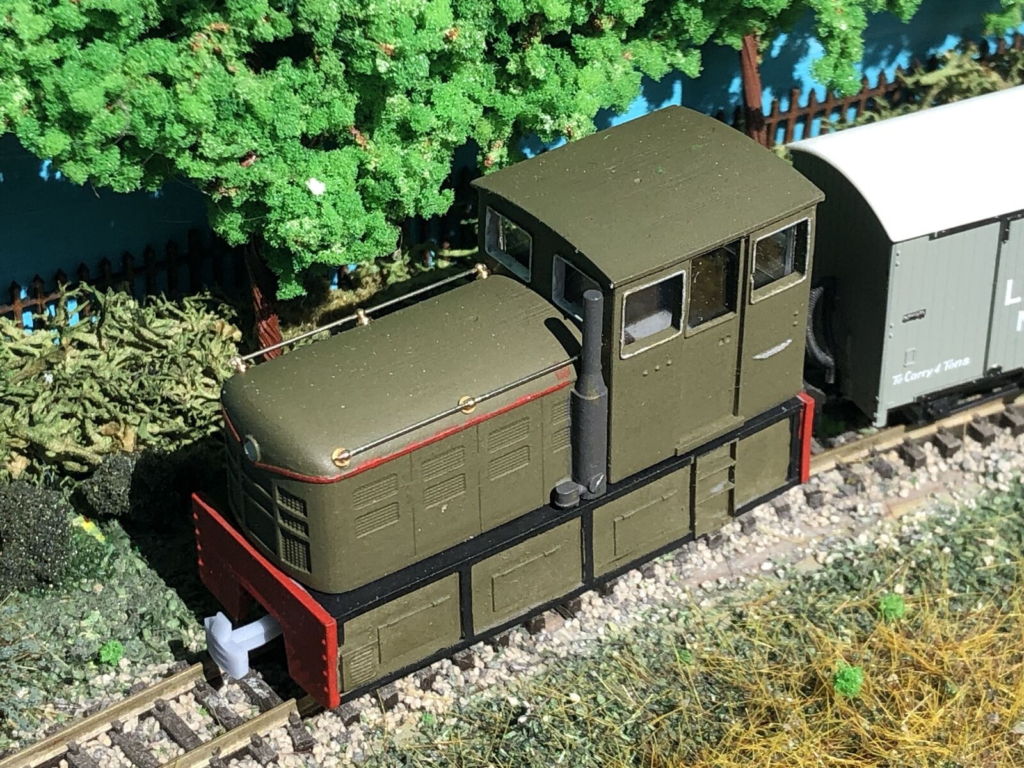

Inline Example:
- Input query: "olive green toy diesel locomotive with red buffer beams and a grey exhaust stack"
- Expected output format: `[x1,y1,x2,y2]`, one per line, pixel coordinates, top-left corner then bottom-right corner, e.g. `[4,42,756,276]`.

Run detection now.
[192,106,823,708]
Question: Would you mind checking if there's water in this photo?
No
